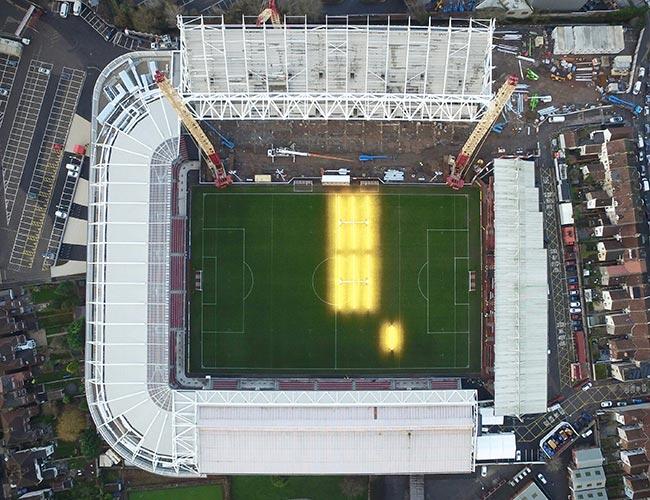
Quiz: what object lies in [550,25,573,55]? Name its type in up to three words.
shed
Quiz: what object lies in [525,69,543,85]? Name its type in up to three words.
work vehicle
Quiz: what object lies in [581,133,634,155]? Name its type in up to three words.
house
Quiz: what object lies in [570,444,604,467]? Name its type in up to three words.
building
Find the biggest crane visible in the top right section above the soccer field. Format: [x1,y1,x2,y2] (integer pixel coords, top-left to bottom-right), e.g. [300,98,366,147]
[446,77,519,189]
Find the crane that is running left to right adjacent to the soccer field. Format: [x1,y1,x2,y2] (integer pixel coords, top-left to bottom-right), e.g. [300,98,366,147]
[266,143,369,167]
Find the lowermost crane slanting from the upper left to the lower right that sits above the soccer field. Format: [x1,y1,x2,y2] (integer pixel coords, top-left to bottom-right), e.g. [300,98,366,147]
[152,74,234,189]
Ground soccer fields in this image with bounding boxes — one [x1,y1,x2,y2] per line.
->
[190,185,479,372]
